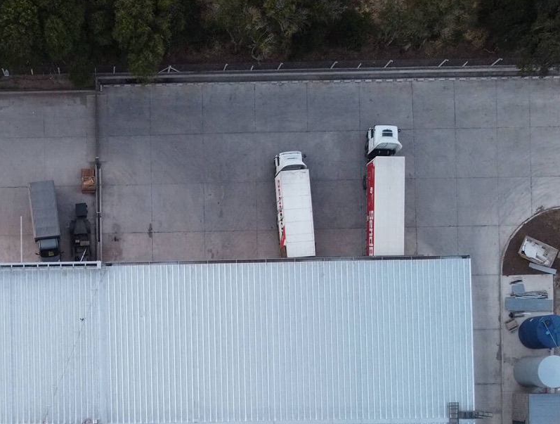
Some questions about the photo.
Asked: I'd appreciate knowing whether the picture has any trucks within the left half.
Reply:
Yes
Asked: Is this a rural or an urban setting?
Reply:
urban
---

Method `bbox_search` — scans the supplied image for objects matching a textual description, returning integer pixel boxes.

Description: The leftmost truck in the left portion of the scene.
[29,178,66,263]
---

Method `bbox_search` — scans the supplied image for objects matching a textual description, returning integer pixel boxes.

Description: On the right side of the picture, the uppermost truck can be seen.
[366,124,403,165]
